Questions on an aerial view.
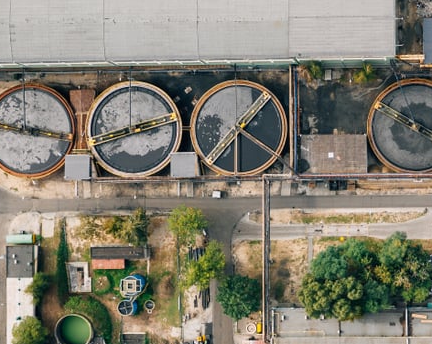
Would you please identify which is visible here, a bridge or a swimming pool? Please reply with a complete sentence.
Visible in the photo is a bridge.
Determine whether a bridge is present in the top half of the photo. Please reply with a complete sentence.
Yes, you'll find a bridge in the top half of the photo.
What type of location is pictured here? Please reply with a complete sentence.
This image shows an industrial area.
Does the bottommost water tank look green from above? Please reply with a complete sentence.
Yes, the bottommost water tank appears green.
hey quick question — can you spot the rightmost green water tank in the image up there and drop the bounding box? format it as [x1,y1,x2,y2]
[55,312,98,344]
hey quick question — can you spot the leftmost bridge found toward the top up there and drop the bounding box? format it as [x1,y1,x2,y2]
[0,123,73,142]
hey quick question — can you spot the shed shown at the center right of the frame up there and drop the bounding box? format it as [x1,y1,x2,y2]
[300,134,367,175]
